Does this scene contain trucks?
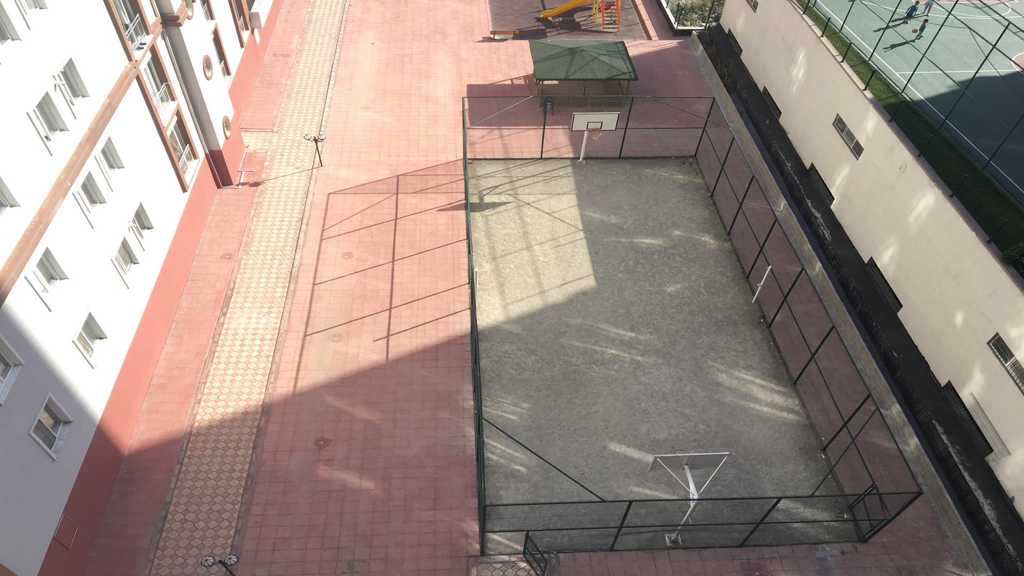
No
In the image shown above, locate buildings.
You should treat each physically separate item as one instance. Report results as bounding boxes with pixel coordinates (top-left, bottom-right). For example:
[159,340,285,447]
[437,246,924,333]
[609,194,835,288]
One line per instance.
[0,0,283,576]
[713,0,1024,576]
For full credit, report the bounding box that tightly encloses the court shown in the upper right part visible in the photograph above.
[804,0,1024,213]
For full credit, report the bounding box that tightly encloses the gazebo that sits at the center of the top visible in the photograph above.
[527,40,638,107]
